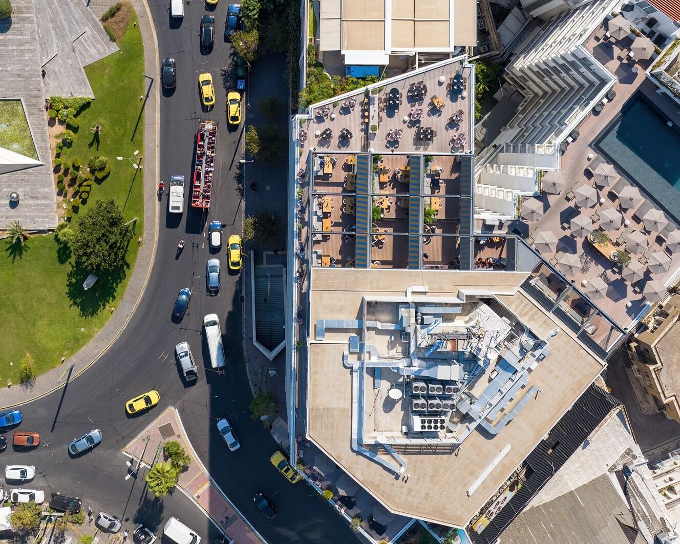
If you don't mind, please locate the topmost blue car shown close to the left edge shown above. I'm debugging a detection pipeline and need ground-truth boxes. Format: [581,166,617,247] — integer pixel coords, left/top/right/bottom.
[0,410,24,429]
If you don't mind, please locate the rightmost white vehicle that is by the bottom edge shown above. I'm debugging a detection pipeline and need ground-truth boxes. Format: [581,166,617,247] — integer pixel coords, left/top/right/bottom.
[160,507,205,544]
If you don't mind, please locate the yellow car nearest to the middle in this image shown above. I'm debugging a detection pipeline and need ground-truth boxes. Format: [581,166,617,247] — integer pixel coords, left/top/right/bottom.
[226,235,248,269]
